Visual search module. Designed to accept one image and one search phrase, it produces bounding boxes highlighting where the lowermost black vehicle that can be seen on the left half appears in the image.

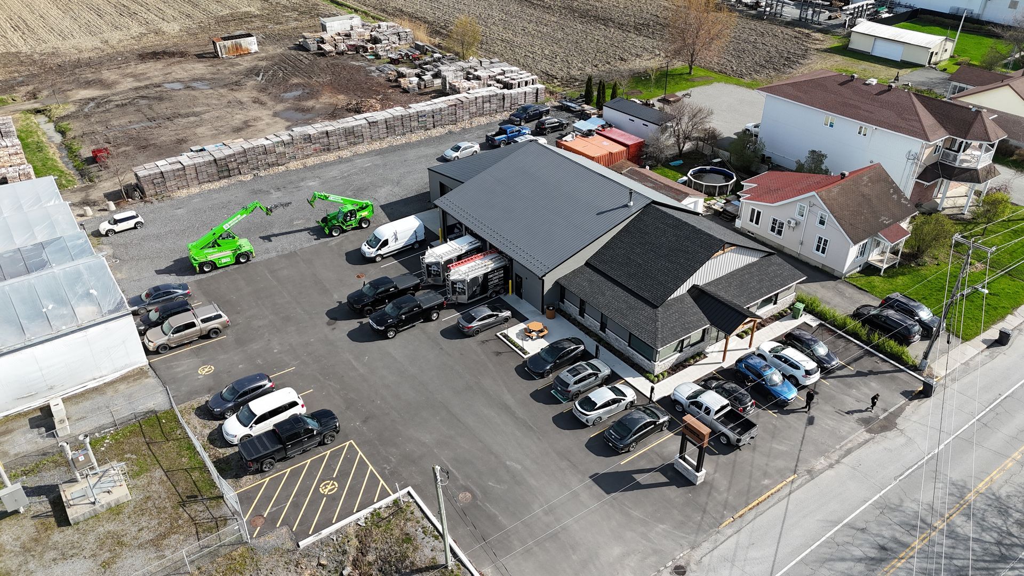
[235,410,342,474]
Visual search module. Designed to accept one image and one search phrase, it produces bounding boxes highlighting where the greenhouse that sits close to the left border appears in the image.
[0,171,148,419]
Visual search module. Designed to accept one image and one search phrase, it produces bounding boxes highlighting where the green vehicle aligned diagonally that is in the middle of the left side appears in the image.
[178,202,295,276]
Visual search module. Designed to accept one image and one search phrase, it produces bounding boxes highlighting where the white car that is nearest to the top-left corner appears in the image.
[99,210,144,236]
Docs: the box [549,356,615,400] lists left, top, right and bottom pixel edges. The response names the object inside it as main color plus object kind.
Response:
gray car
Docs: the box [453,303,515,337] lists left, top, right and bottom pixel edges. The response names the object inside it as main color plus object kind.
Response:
gray car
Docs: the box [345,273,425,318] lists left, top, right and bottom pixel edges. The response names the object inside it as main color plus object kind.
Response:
black truck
